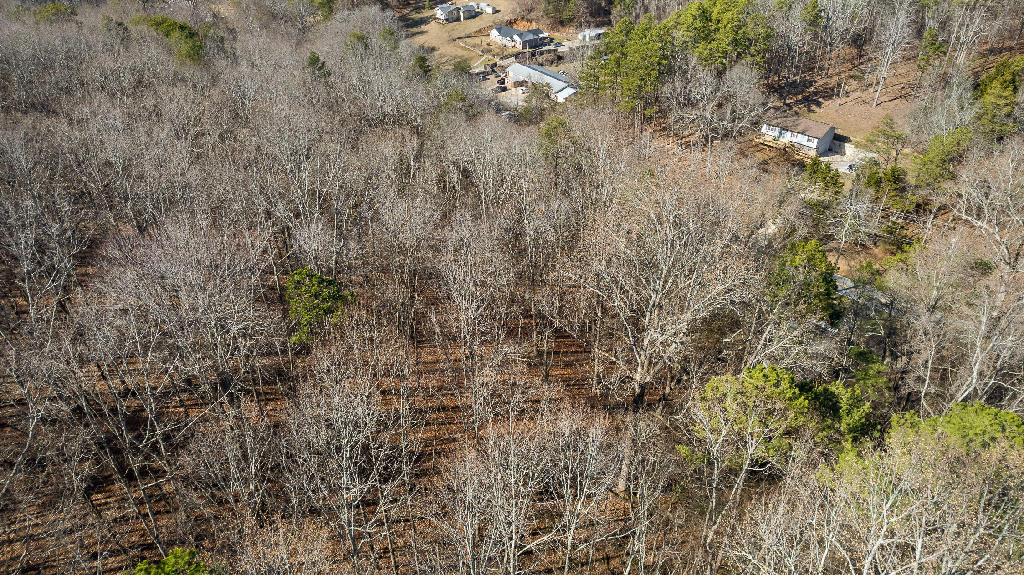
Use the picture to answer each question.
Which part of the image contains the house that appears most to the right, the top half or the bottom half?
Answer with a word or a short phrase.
top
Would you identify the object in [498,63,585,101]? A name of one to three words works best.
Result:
building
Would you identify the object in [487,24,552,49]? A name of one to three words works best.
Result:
house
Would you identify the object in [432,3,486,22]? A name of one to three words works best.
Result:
house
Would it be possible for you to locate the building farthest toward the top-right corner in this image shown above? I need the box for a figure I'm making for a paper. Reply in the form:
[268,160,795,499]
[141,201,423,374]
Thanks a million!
[760,112,839,155]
